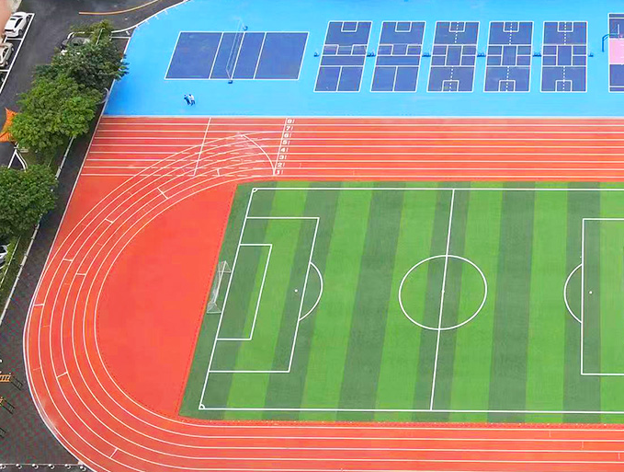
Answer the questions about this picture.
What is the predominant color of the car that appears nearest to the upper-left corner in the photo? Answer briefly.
white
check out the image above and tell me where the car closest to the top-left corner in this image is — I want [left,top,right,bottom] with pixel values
[0,12,30,37]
